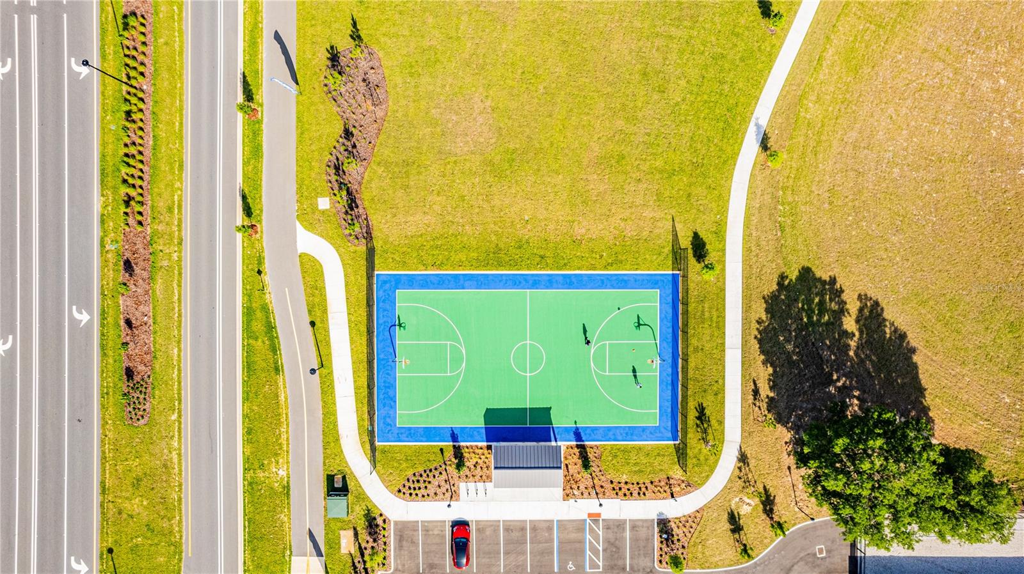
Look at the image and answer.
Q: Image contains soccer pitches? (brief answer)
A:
No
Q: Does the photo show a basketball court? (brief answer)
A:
Yes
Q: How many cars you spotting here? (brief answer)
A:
1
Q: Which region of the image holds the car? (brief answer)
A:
bottom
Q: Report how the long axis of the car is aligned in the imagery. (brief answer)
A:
from top to bottom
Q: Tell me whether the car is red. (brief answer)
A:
Yes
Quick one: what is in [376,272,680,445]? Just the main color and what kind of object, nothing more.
green basketball court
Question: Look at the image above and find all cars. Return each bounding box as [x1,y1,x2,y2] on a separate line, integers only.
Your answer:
[451,524,472,570]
